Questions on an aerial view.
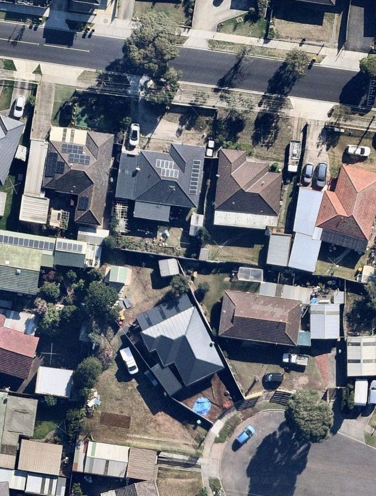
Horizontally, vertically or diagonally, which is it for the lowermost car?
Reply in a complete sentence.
What the image shows is the lowermost car lying diagonally.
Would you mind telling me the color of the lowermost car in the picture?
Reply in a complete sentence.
From above, the lowermost car appears blue.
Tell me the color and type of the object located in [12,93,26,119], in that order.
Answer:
white vehicle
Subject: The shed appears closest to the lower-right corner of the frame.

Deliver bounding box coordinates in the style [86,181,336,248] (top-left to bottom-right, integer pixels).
[347,337,376,377]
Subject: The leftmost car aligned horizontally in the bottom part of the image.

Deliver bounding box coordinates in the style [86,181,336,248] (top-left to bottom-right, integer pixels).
[260,373,286,387]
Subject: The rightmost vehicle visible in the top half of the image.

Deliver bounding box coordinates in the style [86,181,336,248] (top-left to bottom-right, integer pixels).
[346,144,373,157]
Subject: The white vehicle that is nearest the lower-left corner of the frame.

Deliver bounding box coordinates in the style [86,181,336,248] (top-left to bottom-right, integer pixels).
[120,346,140,375]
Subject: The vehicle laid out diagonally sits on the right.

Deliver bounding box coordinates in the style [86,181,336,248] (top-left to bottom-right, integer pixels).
[234,424,257,445]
